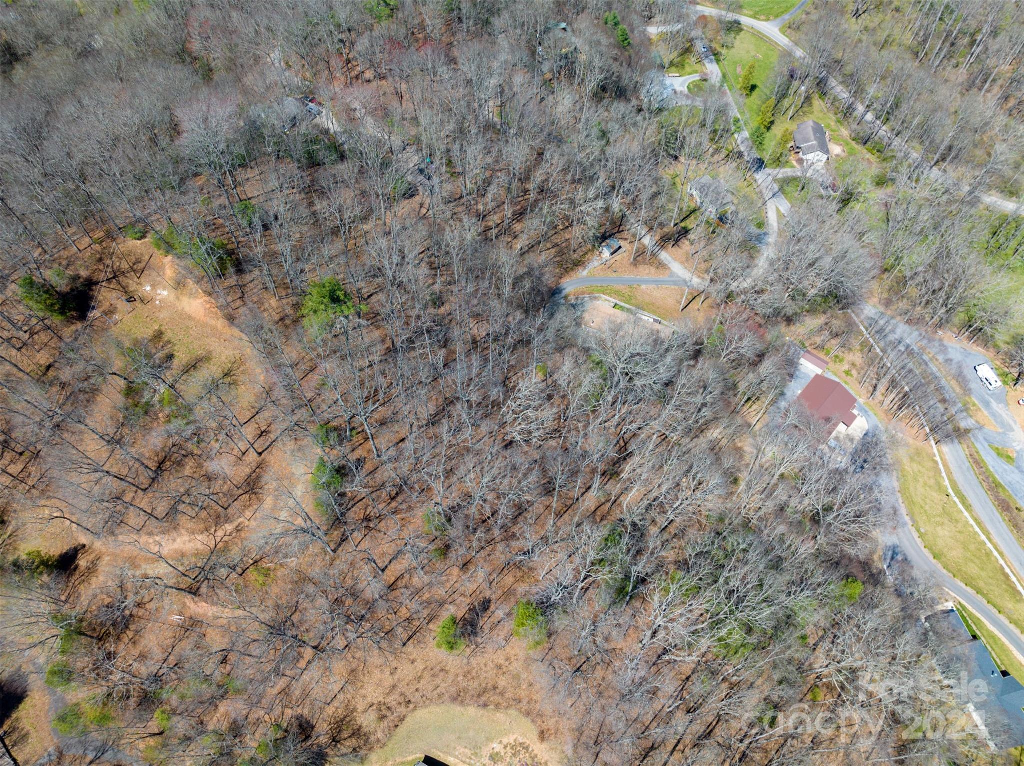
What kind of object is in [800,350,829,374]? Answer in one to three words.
building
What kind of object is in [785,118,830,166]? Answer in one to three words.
house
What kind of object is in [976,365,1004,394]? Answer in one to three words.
vehicle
